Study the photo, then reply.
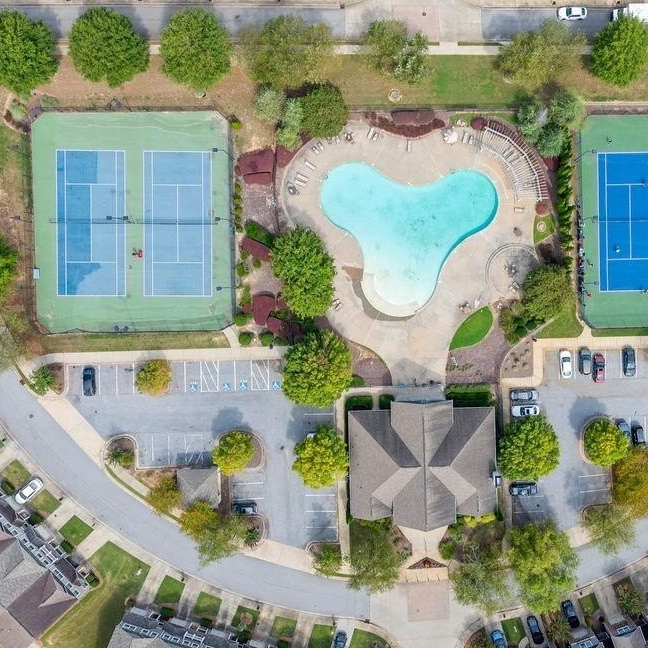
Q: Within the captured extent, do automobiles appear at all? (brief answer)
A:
Yes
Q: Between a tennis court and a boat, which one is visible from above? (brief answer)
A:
tennis court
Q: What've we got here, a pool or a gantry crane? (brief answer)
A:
pool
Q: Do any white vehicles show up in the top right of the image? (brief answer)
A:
Yes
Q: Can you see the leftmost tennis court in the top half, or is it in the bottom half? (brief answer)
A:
top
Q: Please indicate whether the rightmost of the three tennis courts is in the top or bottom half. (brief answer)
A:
top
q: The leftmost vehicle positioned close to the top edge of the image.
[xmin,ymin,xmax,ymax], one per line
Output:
[556,6,587,22]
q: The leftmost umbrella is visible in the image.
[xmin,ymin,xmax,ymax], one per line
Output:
[442,128,459,145]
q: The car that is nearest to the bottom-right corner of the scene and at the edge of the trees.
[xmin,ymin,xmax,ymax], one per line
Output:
[559,596,580,626]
